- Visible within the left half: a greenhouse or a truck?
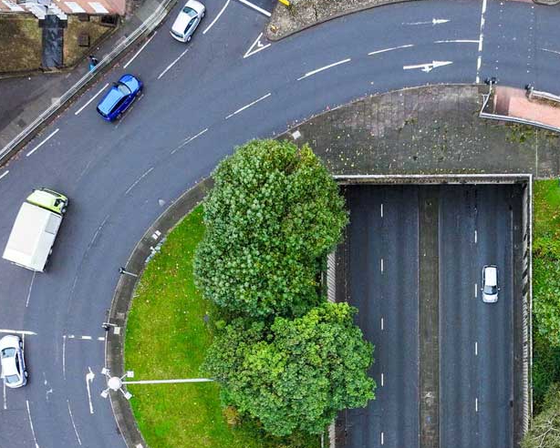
truck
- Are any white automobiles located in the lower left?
Yes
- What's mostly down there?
paved ground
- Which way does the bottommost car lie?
up and down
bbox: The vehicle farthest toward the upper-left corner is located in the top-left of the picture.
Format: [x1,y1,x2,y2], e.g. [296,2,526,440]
[97,75,142,124]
